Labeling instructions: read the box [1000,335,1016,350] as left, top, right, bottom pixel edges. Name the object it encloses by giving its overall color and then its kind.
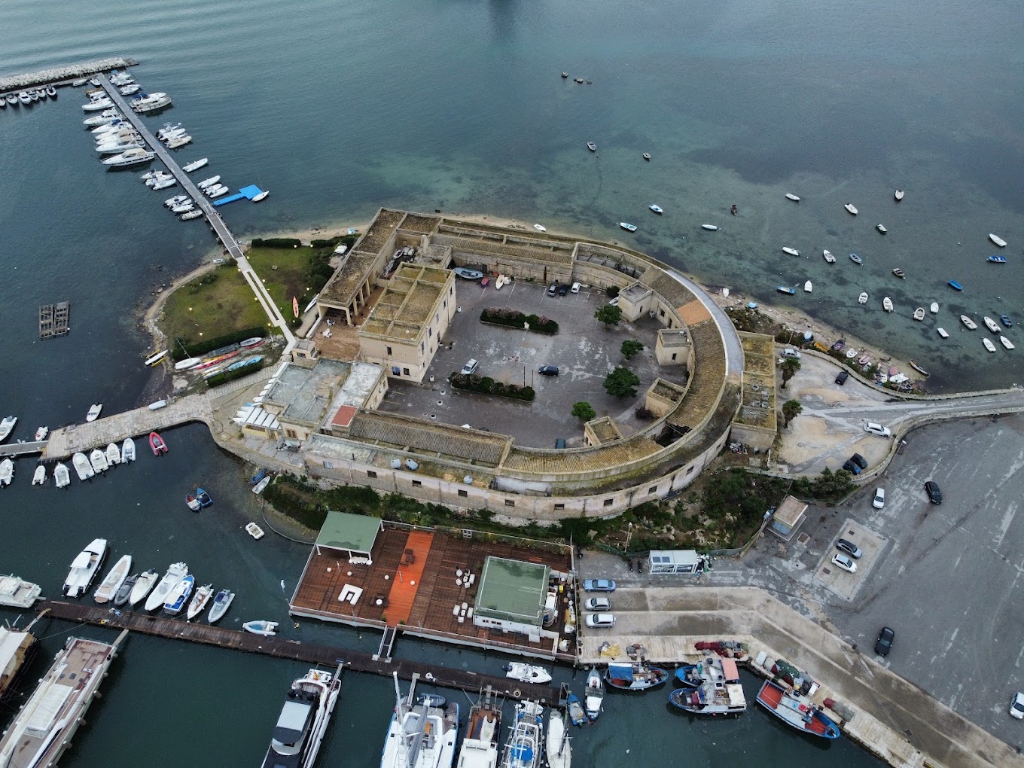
white boat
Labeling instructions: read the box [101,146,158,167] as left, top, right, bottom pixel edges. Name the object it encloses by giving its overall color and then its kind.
white boat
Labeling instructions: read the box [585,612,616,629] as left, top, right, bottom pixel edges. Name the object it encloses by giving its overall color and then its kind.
white car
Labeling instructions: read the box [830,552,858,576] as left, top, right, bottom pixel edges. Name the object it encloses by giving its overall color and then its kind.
white car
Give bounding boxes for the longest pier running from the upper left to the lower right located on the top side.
[99,77,217,215]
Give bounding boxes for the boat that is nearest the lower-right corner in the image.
[757,682,840,734]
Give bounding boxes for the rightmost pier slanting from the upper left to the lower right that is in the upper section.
[205,212,242,257]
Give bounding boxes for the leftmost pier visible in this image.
[0,439,47,459]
